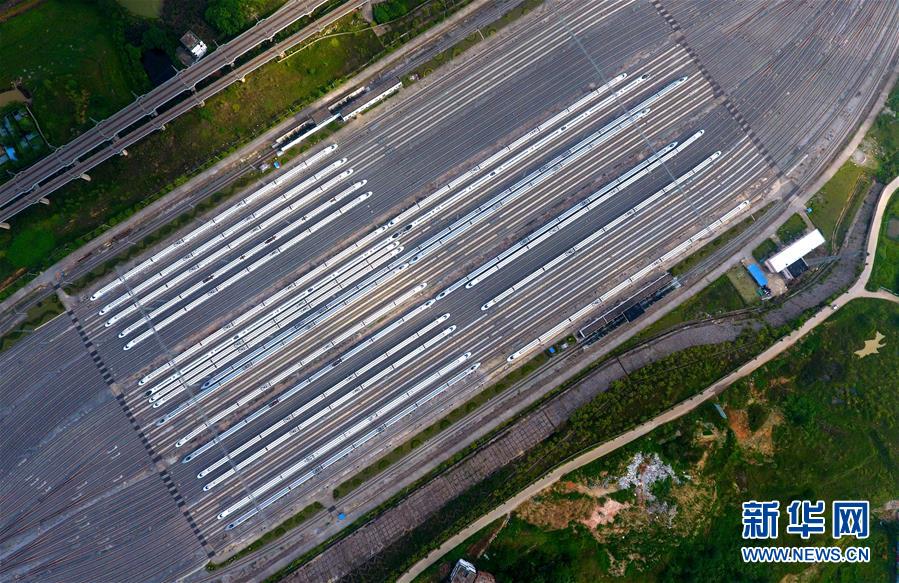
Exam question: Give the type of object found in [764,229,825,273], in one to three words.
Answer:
building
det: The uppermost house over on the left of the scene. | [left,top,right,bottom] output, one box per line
[180,31,205,57]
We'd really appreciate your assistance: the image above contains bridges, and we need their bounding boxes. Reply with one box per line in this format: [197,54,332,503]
[0,0,324,209]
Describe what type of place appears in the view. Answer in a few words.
rail yard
